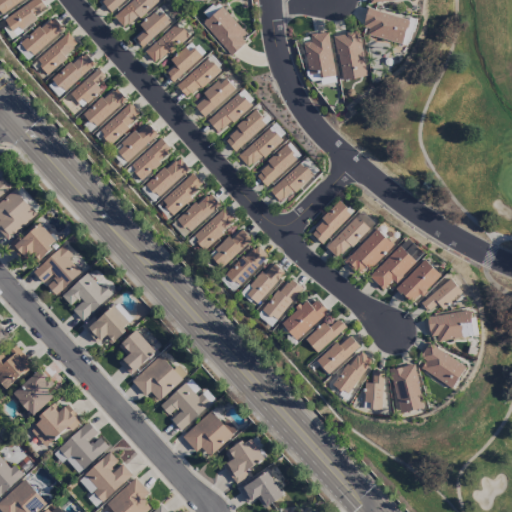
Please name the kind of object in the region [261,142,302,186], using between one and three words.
house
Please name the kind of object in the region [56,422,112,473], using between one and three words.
house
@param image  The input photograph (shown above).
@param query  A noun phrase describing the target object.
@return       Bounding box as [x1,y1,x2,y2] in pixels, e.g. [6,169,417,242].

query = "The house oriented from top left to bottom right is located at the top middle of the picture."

[204,4,251,53]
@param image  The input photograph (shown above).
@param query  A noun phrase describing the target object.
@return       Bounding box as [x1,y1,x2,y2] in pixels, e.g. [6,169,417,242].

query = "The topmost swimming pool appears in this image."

[122,291,136,312]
